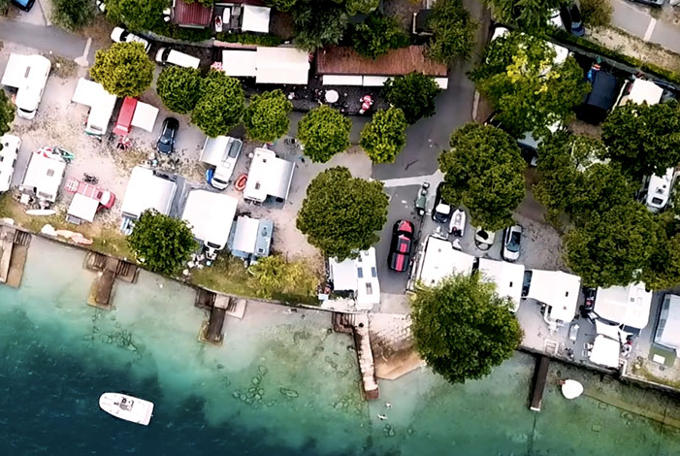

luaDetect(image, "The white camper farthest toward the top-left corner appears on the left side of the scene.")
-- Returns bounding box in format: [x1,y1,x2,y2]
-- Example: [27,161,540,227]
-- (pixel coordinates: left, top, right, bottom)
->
[1,53,53,123]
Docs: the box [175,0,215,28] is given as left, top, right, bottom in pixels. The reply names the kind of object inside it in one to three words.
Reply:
house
